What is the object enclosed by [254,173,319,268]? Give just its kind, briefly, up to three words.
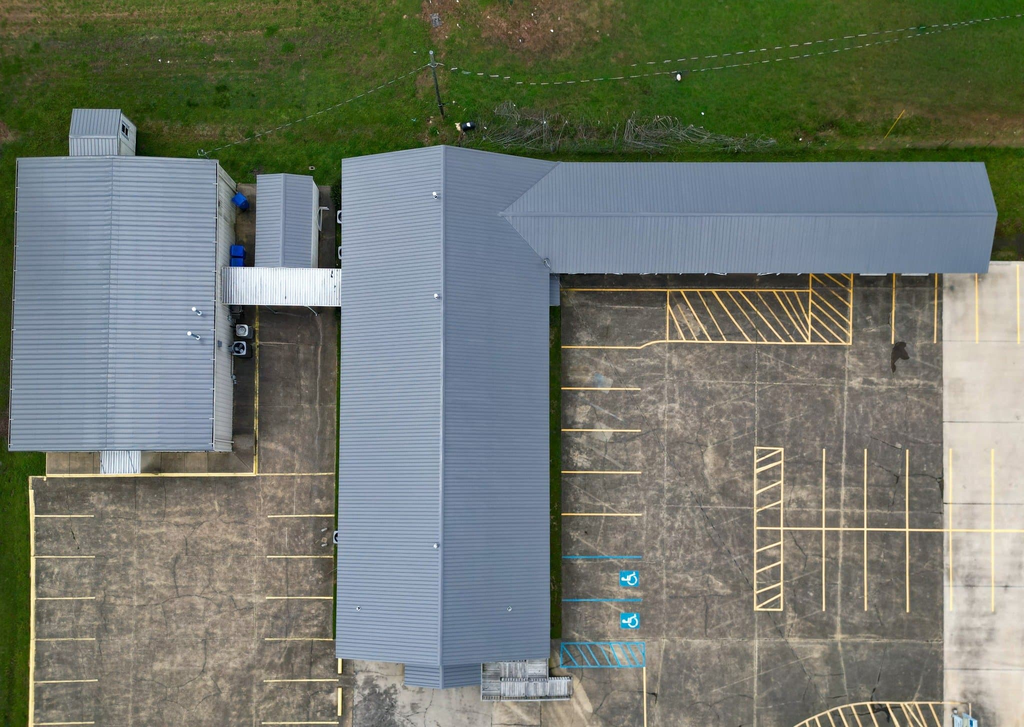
shed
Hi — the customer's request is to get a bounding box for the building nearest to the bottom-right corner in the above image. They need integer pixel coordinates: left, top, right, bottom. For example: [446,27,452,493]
[335,144,999,690]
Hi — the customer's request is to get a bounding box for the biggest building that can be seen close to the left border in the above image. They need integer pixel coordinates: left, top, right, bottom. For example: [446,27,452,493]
[7,147,237,474]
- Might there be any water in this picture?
No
